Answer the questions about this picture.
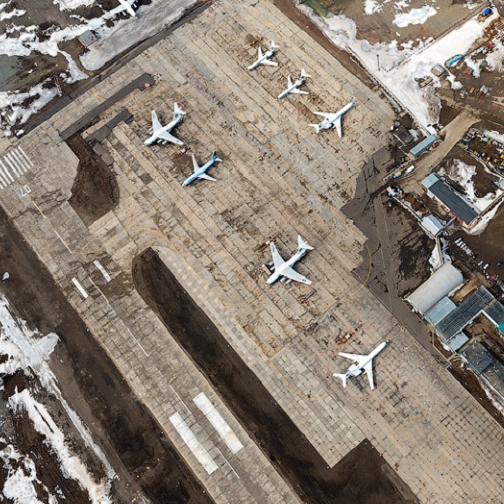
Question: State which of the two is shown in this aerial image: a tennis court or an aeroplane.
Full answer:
Looking from above, you can make out an aeroplane.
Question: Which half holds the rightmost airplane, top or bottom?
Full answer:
You can find the rightmost airplane in the bottom half.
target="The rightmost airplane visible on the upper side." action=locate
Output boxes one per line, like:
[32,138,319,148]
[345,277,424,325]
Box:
[308,102,356,138]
